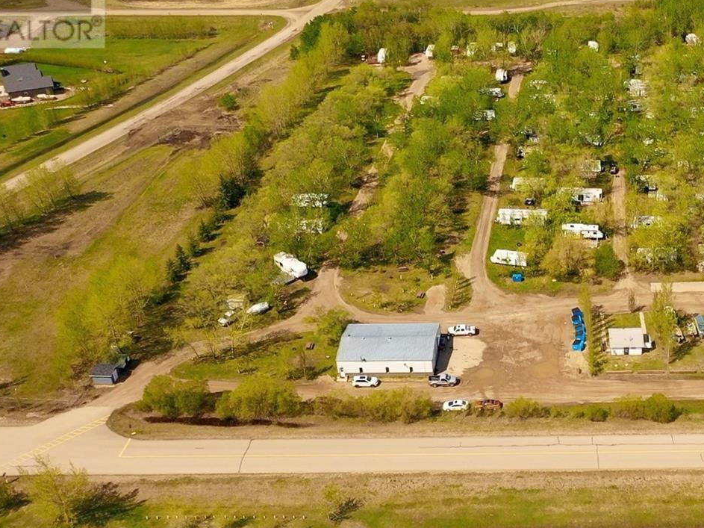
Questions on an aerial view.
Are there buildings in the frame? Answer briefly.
Yes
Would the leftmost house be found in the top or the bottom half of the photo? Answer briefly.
top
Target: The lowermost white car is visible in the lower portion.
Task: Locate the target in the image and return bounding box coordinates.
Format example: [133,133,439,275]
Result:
[441,400,469,412]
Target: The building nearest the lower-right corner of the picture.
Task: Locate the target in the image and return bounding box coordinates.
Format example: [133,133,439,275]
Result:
[608,322,651,355]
